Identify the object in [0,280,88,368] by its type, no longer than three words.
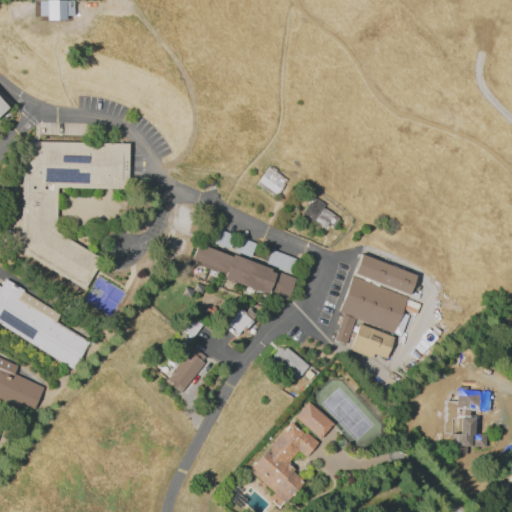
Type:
building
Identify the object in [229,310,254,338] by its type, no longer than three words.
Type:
house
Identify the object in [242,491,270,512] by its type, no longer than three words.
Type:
swimming pool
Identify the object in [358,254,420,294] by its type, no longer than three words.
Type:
building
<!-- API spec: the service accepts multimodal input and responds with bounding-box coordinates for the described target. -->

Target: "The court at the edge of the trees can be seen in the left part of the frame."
[84,276,126,312]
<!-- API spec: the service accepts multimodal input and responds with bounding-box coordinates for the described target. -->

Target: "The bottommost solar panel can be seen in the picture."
[0,311,36,338]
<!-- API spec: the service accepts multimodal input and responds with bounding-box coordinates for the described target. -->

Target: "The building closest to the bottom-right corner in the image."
[454,388,492,456]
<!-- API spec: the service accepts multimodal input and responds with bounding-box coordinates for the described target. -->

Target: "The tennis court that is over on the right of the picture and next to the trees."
[317,380,381,446]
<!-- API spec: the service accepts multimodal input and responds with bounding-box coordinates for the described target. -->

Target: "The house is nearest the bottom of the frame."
[254,426,320,507]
